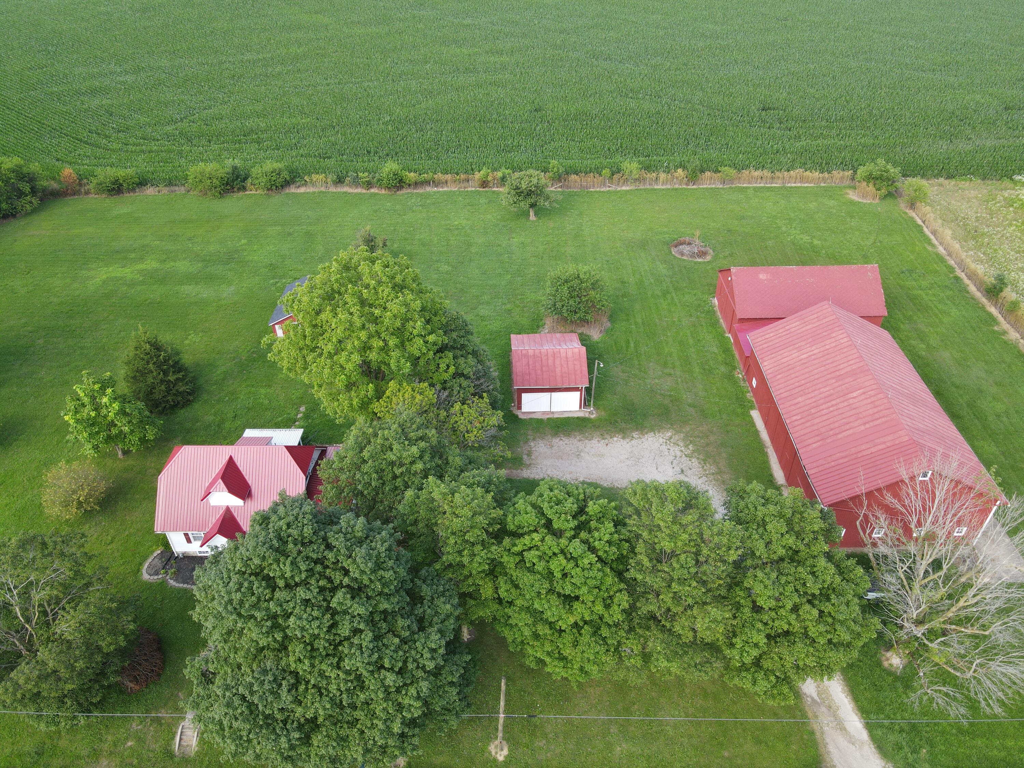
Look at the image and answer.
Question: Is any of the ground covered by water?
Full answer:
No, there is no water in the image.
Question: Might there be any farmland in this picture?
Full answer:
Yes, farmland shows up in the scene.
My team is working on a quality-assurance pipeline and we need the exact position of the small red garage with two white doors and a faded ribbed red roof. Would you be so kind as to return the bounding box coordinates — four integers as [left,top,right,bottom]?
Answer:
[510,333,594,410]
